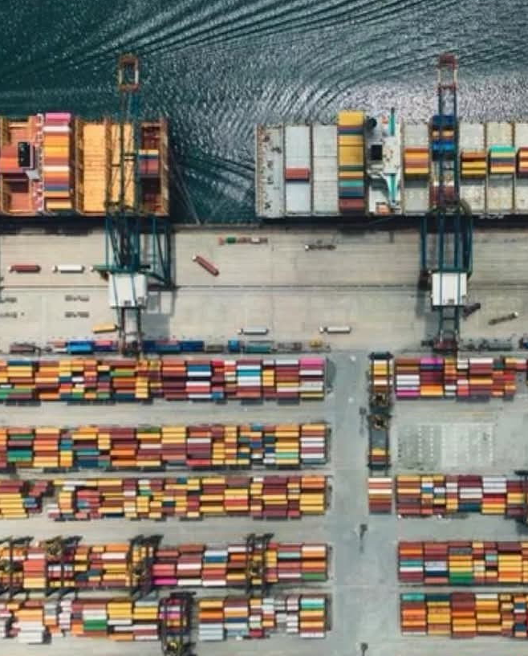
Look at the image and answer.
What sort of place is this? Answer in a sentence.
The area seen from above is a port.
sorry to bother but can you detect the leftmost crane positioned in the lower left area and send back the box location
[0,529,33,598]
